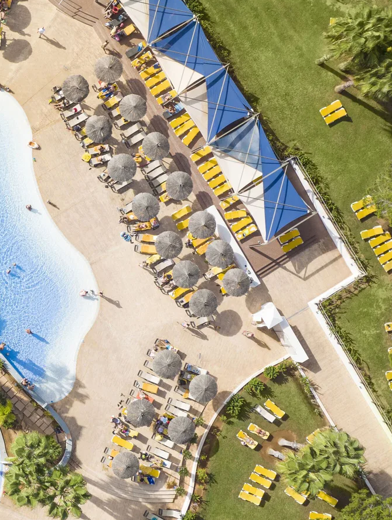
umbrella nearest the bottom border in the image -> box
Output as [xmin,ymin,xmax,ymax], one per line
[111,449,139,478]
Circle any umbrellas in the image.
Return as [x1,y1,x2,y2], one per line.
[117,93,147,122]
[141,131,169,161]
[220,268,249,298]
[124,397,153,427]
[111,449,139,478]
[204,239,233,268]
[92,55,122,85]
[153,230,181,259]
[163,170,192,200]
[82,115,112,145]
[165,416,194,444]
[107,153,136,182]
[188,374,216,402]
[169,261,199,290]
[128,192,158,222]
[152,350,181,378]
[188,289,217,319]
[186,210,215,240]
